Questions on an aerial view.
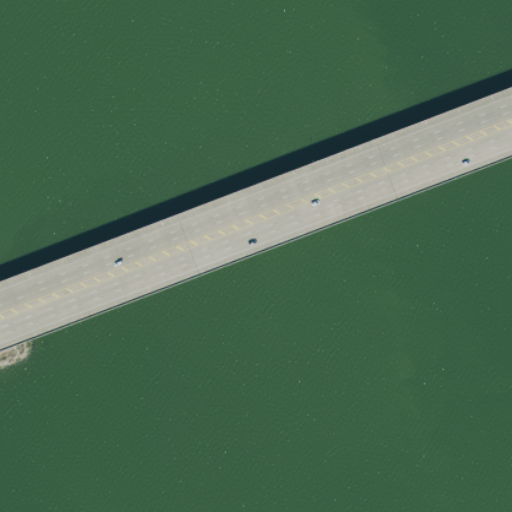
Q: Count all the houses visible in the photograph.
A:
zero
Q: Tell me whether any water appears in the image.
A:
Yes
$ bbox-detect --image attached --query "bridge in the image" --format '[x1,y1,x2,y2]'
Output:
[0,86,512,352]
